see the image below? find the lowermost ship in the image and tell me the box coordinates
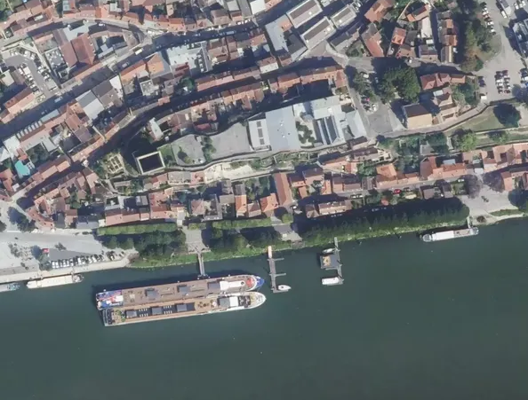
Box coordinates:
[102,293,267,327]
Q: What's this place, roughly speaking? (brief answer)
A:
residential area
